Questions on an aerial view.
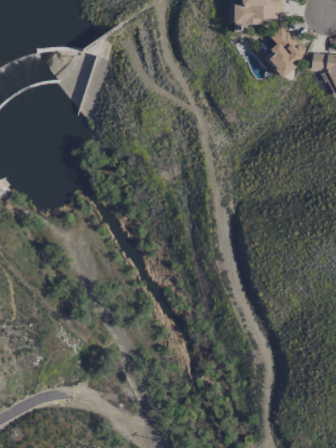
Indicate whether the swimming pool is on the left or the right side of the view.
right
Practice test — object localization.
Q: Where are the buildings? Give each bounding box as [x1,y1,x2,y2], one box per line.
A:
[327,54,336,85]
[270,26,308,80]
[312,53,324,70]
[235,0,284,25]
